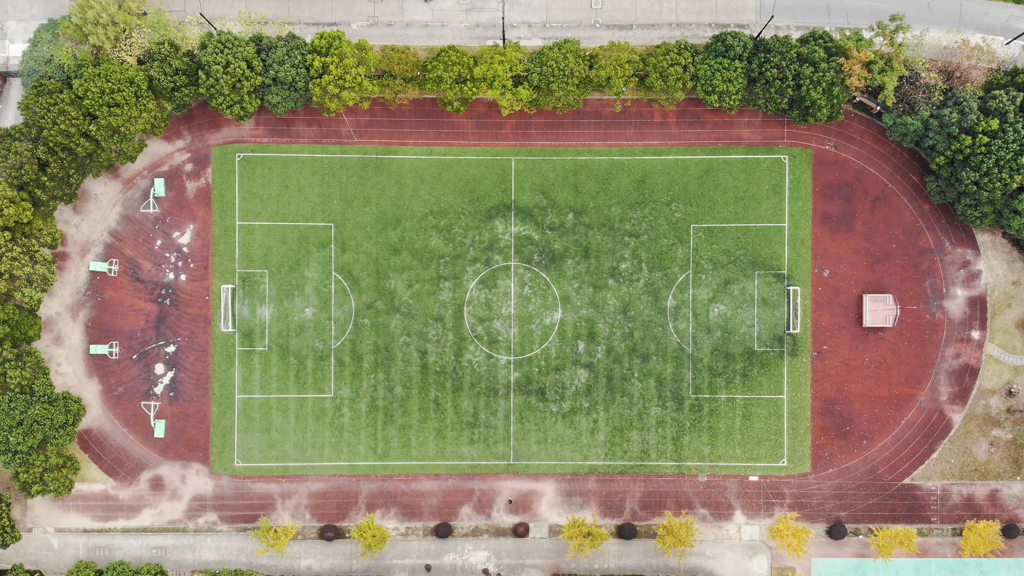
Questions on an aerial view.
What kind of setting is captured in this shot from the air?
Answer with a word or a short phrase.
sports ground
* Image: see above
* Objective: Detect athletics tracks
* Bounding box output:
[27,96,1024,524]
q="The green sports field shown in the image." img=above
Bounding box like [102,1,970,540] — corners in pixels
[211,144,812,475]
